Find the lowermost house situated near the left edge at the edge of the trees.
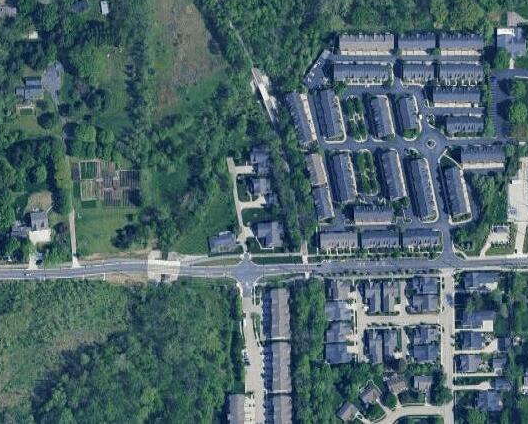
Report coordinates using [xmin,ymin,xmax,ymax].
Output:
[14,210,52,242]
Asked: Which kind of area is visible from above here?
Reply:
residential area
